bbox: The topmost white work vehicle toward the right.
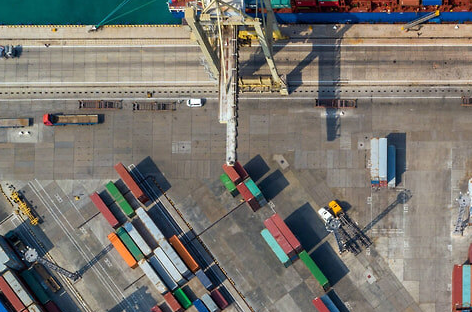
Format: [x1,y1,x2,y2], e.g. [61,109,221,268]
[316,204,331,222]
